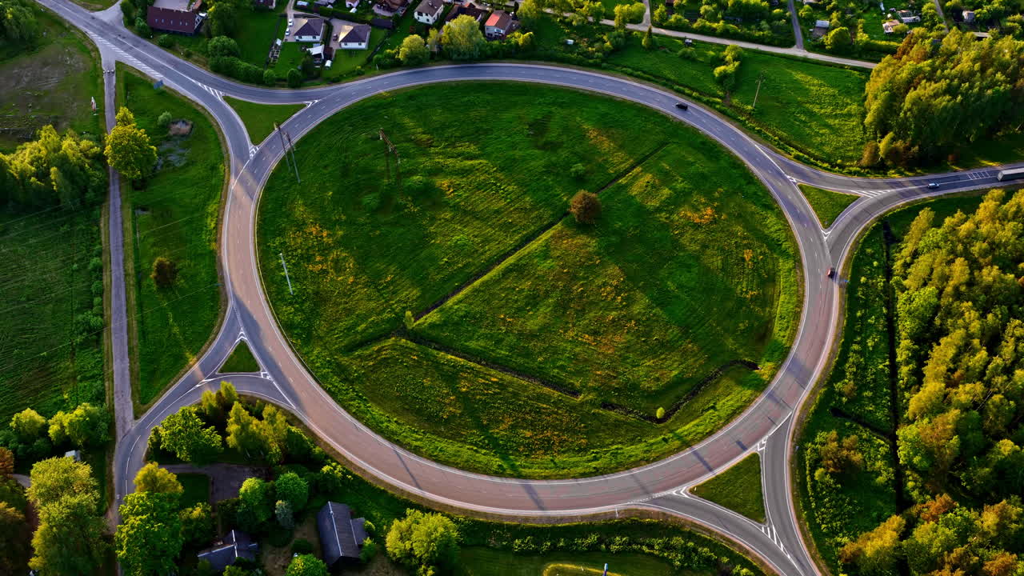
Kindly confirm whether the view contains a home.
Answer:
Yes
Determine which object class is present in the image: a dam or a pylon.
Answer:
pylon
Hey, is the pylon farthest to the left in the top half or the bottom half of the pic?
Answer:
top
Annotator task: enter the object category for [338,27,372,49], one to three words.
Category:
house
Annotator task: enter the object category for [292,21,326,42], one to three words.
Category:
house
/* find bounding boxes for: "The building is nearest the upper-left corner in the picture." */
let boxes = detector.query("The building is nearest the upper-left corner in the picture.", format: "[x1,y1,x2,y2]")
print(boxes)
[145,3,203,36]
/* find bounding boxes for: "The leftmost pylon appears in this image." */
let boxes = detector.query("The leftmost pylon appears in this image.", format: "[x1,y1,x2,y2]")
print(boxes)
[272,120,300,182]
